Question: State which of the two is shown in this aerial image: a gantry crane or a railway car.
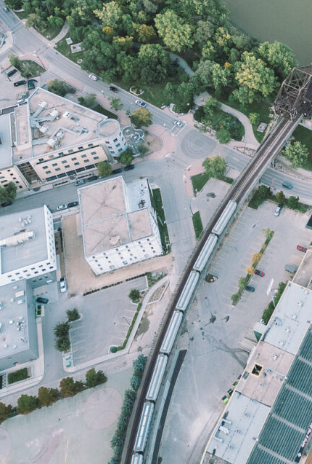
railway car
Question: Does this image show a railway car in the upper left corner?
No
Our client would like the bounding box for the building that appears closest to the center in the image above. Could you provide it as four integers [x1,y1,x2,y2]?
[77,175,161,274]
